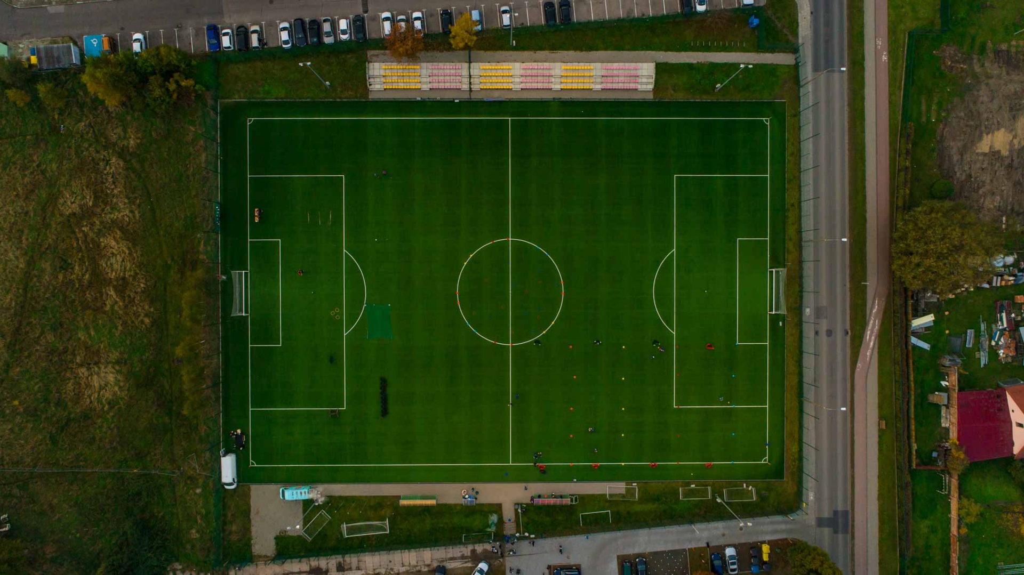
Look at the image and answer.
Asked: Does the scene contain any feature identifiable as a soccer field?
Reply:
Yes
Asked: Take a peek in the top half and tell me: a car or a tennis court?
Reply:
car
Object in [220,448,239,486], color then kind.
white vehicle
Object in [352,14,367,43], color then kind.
black car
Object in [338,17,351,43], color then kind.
white vehicle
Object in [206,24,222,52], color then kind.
blue car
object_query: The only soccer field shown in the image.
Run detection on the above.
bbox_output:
[220,100,785,484]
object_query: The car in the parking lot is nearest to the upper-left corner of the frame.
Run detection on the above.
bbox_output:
[101,34,115,57]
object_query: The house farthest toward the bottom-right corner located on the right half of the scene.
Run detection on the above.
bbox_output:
[949,378,1024,462]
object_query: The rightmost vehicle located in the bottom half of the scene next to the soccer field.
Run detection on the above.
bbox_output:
[278,482,313,500]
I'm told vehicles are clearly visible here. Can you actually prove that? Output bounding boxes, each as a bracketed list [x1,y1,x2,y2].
[338,17,351,43]
[724,545,738,575]
[500,6,512,30]
[131,32,147,56]
[248,24,263,52]
[710,550,724,575]
[695,0,708,15]
[434,564,446,575]
[220,448,239,486]
[352,14,367,43]
[308,19,322,46]
[472,557,490,575]
[322,16,336,46]
[234,24,250,53]
[411,11,425,38]
[440,8,452,35]
[206,24,222,52]
[543,1,556,28]
[471,8,483,33]
[635,556,648,575]
[293,17,309,48]
[681,0,694,18]
[558,0,571,25]
[278,21,293,50]
[278,482,313,500]
[380,11,393,39]
[101,34,115,57]
[220,29,235,52]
